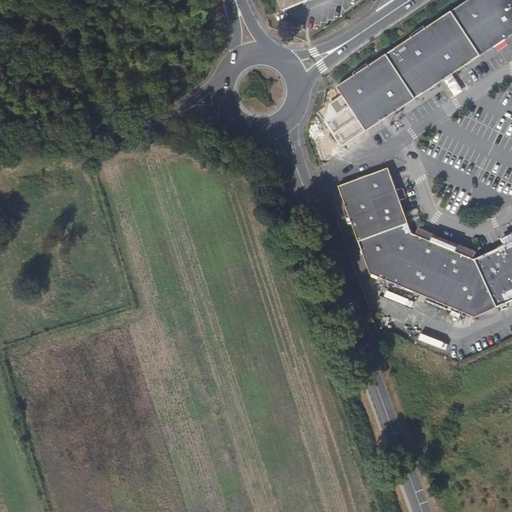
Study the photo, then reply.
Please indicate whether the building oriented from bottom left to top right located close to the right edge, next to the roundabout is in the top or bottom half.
top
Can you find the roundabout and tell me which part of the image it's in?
top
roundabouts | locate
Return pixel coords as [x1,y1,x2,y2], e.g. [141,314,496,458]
[212,41,310,140]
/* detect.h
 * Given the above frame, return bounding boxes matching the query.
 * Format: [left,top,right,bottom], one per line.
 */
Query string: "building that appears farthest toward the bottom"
[338,168,512,318]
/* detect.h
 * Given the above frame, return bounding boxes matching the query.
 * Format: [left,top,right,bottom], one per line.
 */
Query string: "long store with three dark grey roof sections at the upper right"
[338,0,512,128]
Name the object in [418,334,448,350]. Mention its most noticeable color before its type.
white vehicle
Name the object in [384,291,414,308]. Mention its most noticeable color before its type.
white vehicle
